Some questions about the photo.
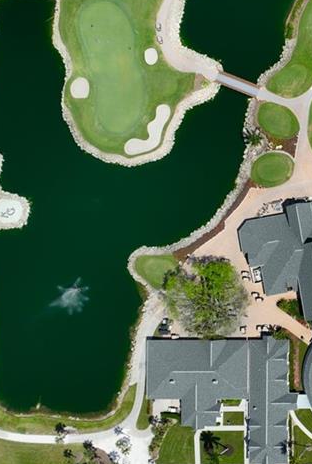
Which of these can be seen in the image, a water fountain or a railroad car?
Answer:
water fountain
